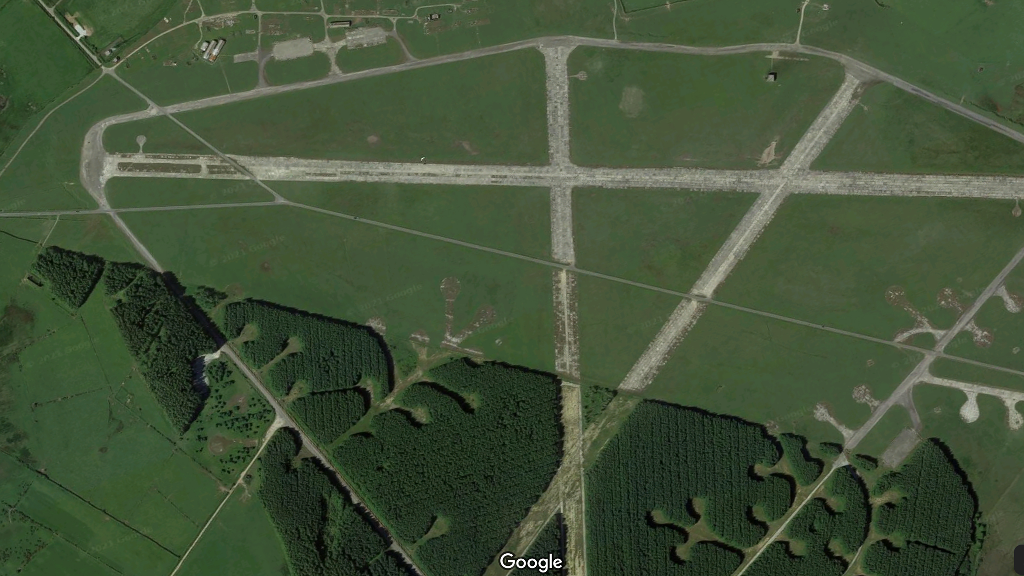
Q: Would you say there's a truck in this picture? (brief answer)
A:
No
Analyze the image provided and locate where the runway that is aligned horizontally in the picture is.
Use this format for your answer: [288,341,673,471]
[103,153,1024,199]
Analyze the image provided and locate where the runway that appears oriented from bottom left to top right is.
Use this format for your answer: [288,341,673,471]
[618,55,885,391]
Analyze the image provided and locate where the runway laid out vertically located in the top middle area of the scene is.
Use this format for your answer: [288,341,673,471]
[532,45,578,264]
